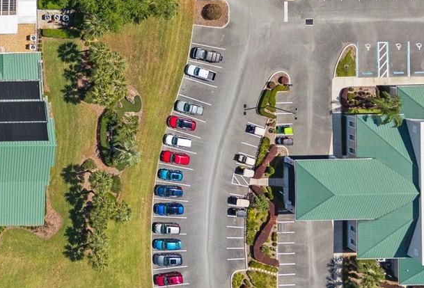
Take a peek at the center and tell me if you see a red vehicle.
Yes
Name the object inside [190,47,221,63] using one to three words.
car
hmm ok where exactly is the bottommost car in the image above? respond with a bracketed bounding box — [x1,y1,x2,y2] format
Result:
[153,271,184,287]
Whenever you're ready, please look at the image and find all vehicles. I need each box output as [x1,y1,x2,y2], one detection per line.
[153,184,183,199]
[162,133,192,150]
[174,99,204,116]
[190,47,221,63]
[274,126,296,136]
[160,150,190,166]
[153,201,184,216]
[227,206,248,218]
[245,123,265,138]
[274,136,295,146]
[228,197,249,209]
[152,222,179,236]
[234,165,255,178]
[166,114,197,132]
[235,152,255,165]
[153,237,179,252]
[153,271,184,287]
[157,167,184,181]
[183,64,219,83]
